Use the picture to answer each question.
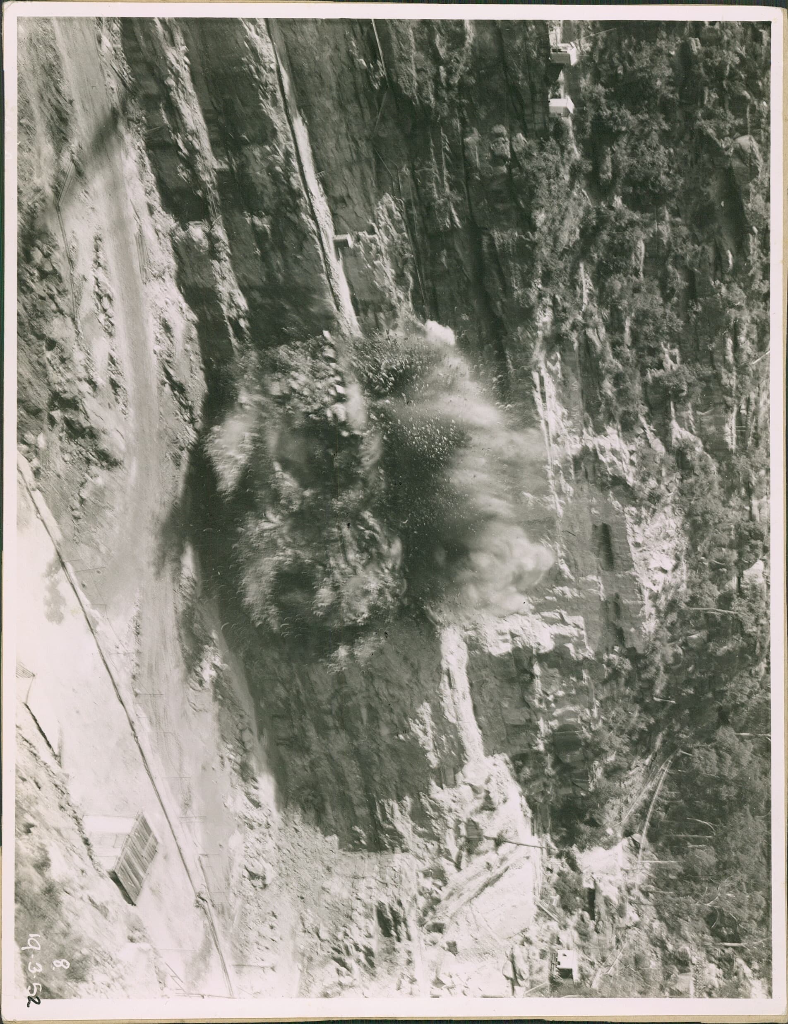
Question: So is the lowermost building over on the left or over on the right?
right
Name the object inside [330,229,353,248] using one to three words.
shed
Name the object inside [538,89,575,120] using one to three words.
shed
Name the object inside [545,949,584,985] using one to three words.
building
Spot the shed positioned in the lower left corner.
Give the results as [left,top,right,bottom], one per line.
[78,812,157,899]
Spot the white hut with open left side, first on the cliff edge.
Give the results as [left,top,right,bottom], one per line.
[540,37,578,67]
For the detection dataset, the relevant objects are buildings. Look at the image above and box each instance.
[538,89,575,120]
[545,949,584,985]
[78,812,157,899]
[540,37,578,67]
[330,229,353,248]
